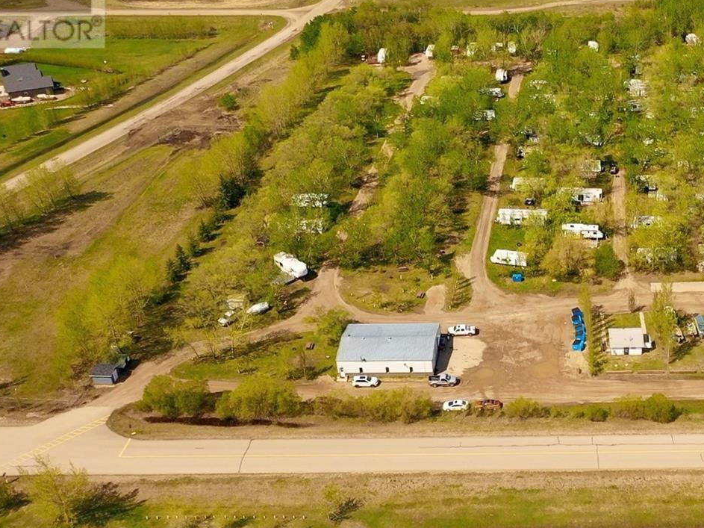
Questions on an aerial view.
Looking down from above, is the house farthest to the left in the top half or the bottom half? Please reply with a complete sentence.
The house farthest to the left is in the top half of the image.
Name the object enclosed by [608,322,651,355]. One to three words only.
building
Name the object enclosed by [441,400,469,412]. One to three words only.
vehicle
